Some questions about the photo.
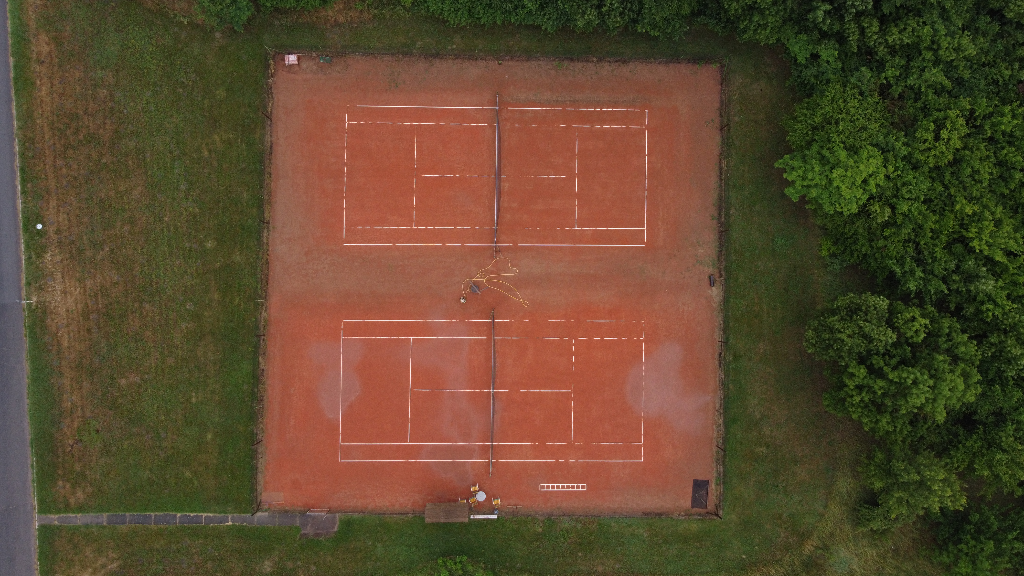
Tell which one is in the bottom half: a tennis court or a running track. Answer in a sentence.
Looking in the bottom half, you will find a tennis court.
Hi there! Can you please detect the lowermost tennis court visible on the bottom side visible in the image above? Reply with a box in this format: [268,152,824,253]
[261,281,719,512]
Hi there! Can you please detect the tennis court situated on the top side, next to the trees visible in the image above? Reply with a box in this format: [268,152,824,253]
[267,56,722,287]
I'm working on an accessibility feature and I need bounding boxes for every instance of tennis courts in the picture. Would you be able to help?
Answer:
[267,56,722,287]
[261,281,719,512]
